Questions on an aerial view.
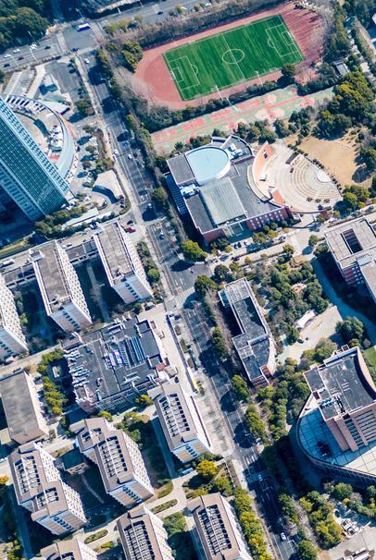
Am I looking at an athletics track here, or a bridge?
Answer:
athletics track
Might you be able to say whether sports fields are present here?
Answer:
Yes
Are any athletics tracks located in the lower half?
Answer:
No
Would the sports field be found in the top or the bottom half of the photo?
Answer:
top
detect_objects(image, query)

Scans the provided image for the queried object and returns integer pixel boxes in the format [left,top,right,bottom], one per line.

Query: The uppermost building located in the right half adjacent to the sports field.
[167,135,295,245]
